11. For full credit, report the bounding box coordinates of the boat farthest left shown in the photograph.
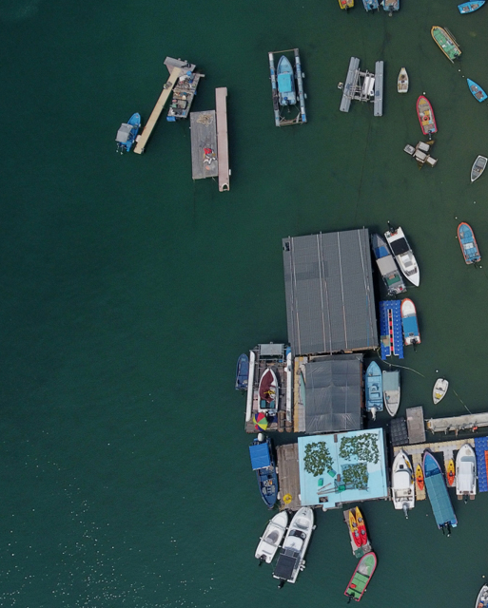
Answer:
[110,112,141,160]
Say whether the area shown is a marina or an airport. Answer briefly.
marina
